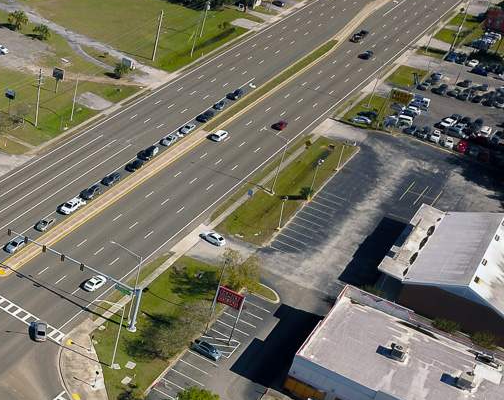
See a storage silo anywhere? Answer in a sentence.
No, I find no storage silo anywhere in the image.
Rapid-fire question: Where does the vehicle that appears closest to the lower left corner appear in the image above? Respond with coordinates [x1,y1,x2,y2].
[33,320,48,344]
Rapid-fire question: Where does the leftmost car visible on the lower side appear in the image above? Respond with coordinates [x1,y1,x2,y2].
[3,236,27,254]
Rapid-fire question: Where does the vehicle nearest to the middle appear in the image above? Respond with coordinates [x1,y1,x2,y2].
[199,232,229,247]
